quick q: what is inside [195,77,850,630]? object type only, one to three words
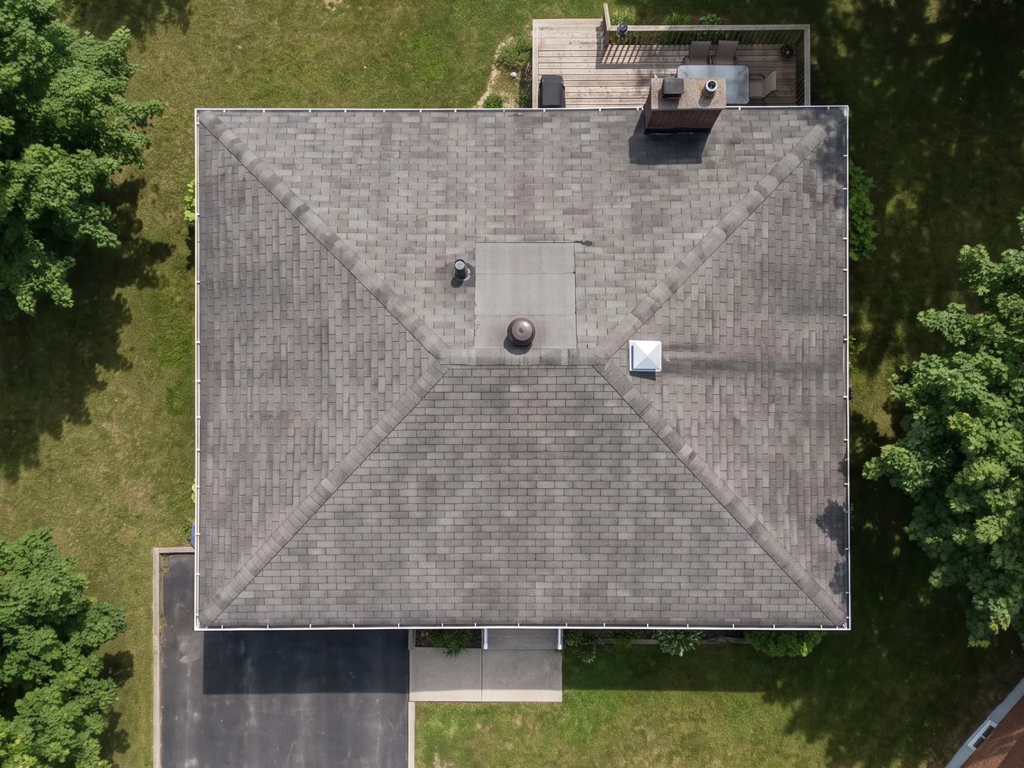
house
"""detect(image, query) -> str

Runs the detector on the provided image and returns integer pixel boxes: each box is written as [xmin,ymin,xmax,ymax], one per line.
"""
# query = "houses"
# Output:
[948,678,1024,768]
[195,77,850,630]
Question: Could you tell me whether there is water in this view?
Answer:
No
